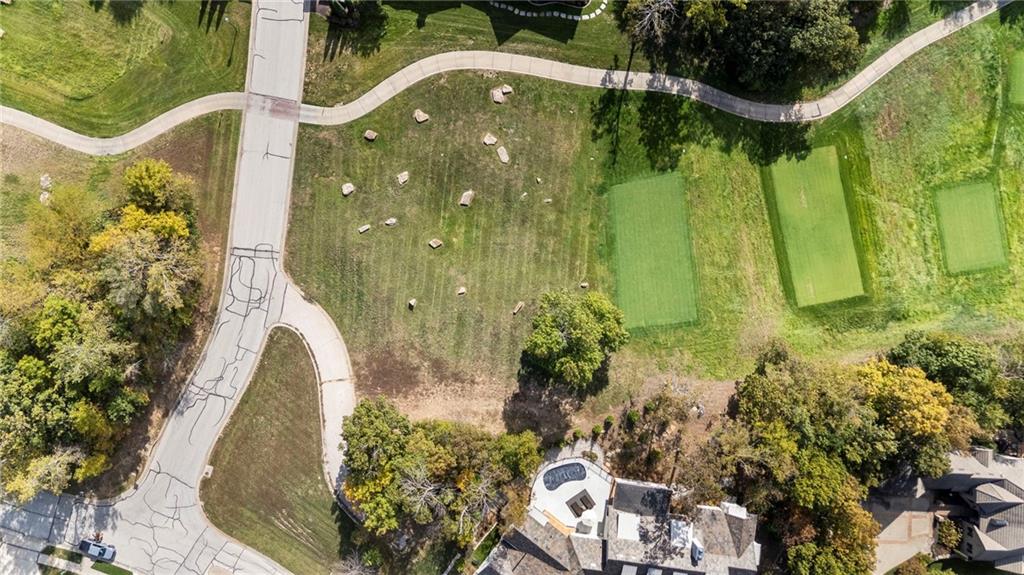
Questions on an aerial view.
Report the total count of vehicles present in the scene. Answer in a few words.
1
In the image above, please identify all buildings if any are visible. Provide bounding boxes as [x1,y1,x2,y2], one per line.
[473,475,761,575]
[915,449,1024,575]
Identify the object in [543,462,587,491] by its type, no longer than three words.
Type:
swimming pool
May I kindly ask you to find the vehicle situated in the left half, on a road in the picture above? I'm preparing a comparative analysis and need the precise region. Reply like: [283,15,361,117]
[78,537,118,560]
